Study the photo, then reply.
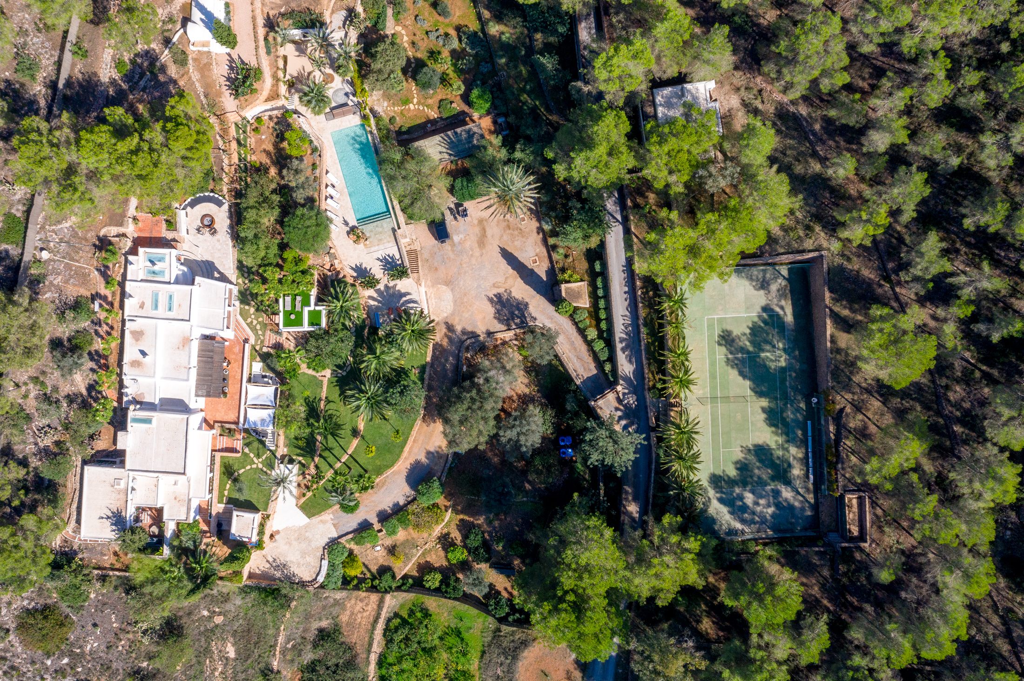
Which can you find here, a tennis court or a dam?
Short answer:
tennis court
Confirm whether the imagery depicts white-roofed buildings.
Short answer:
Yes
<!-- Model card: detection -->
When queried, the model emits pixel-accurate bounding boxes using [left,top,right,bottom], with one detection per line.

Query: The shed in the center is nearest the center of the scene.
[559,281,589,308]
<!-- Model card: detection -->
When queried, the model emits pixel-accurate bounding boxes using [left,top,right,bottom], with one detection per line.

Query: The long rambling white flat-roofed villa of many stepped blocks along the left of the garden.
[80,248,246,557]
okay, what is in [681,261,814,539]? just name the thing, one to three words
tennis court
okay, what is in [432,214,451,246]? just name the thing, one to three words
car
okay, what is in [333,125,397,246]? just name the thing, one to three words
swimming pool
